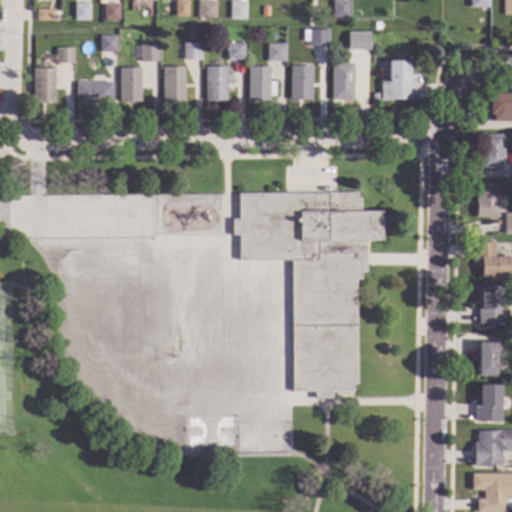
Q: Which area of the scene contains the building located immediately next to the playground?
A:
center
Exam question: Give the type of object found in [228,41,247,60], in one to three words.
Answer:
building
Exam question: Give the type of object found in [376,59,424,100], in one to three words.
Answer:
house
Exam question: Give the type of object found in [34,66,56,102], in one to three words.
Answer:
house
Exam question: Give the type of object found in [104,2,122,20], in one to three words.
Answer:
building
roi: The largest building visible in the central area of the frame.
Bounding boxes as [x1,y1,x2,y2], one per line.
[233,192,386,398]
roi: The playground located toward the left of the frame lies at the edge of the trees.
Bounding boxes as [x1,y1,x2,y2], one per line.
[158,196,223,234]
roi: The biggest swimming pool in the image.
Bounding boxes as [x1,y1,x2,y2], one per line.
[81,40,96,56]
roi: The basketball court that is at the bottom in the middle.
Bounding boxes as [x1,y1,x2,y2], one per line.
[180,416,239,453]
